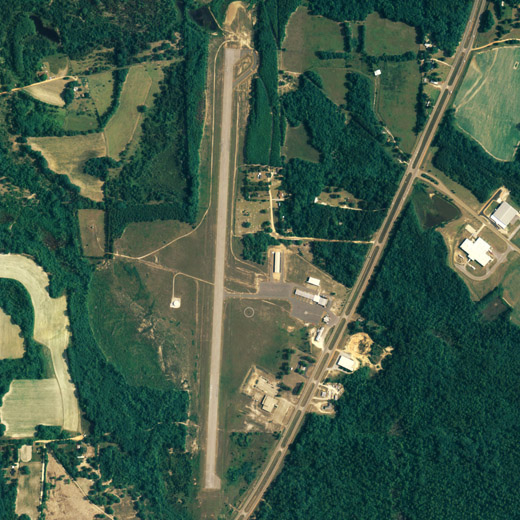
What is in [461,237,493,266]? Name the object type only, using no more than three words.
building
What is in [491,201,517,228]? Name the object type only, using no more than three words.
building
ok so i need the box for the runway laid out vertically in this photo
[205,48,240,489]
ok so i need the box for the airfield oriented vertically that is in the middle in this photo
[205,48,339,489]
